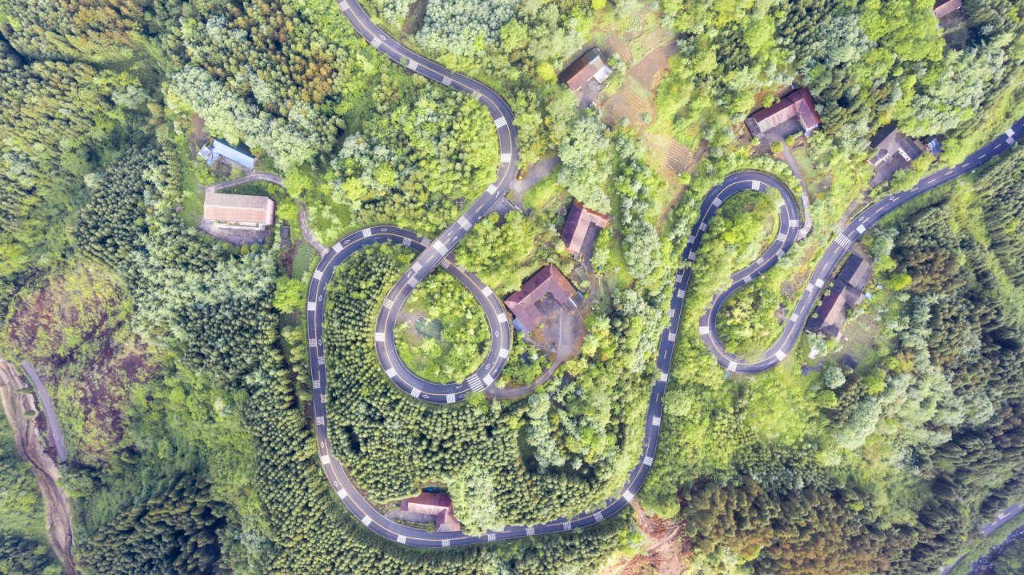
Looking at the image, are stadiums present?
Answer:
No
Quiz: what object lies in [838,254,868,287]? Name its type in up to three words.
house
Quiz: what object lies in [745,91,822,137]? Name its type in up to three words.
house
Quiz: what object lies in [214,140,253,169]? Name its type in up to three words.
shed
